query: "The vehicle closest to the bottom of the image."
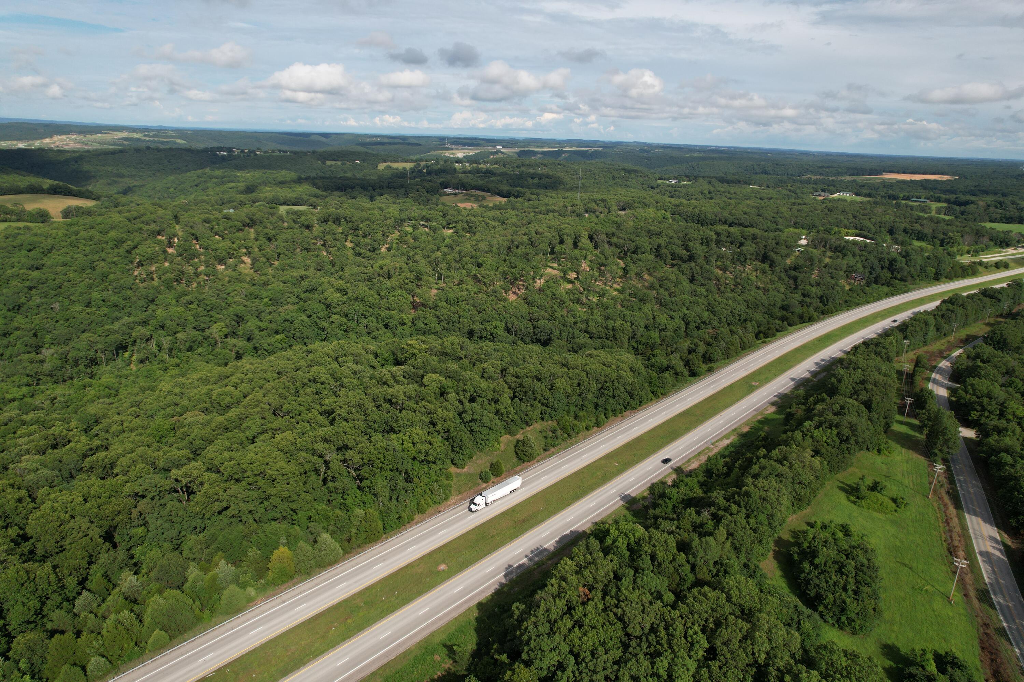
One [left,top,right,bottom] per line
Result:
[469,475,521,510]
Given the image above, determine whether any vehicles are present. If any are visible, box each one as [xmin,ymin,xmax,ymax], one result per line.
[469,475,521,510]
[663,457,673,463]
